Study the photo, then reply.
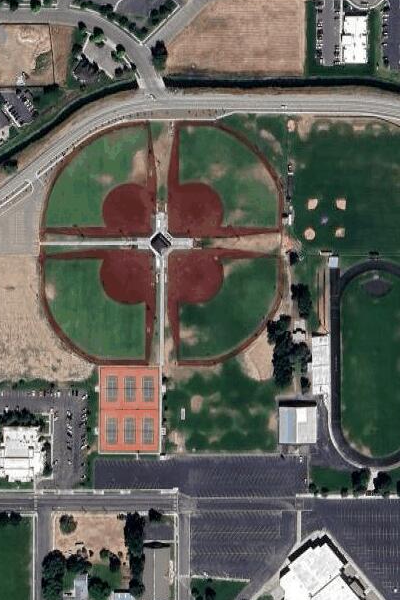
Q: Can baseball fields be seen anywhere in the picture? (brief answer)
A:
Yes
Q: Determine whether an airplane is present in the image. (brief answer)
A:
No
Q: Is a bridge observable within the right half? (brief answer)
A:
No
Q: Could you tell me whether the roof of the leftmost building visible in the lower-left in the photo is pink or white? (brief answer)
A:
white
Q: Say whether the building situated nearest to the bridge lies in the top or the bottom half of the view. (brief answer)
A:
top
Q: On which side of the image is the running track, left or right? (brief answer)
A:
right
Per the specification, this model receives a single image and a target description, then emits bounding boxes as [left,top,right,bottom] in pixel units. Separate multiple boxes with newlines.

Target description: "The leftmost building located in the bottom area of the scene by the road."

[0,424,48,483]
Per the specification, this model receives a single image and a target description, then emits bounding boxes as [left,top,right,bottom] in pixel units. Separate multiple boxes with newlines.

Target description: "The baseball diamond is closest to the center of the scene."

[169,251,282,361]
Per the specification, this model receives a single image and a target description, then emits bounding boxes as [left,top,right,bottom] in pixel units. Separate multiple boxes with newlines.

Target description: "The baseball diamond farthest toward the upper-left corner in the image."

[42,120,157,236]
